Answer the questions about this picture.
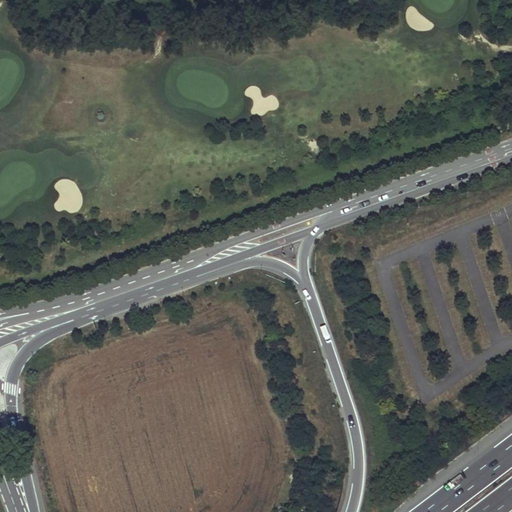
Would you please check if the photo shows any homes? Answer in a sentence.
No, I find no home anywhere in the image.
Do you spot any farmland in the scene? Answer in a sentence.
Yes, some farmland is visible.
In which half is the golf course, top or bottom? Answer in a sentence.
Seen from above, the golf course lies in the top half of the view.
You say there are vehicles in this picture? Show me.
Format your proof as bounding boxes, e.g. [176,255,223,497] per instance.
[360,200,370,206]
[488,458,498,468]
[320,324,330,342]
[378,194,388,200]
[456,173,468,180]
[340,207,351,213]
[454,488,464,496]
[416,180,427,186]
[310,226,320,236]
[303,290,310,300]
[444,472,466,490]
